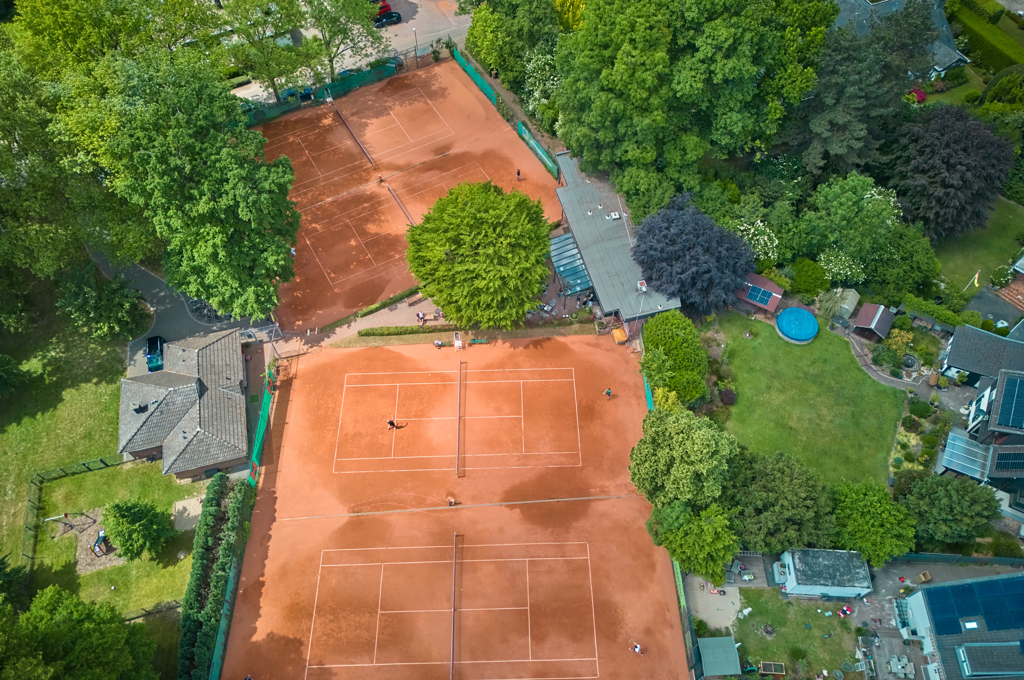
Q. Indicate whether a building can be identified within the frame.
Yes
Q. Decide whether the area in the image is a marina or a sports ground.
sports ground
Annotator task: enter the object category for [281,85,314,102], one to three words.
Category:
car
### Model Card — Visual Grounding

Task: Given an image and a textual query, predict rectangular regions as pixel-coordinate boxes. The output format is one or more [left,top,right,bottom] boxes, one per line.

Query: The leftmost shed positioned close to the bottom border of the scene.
[695,637,741,678]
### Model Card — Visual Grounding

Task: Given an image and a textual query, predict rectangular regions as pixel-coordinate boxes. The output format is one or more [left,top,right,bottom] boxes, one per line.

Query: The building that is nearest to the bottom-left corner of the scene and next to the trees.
[118,327,253,482]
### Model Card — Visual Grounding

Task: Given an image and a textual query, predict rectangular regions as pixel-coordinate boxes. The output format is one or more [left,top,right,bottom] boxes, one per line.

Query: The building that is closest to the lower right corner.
[897,572,1024,680]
